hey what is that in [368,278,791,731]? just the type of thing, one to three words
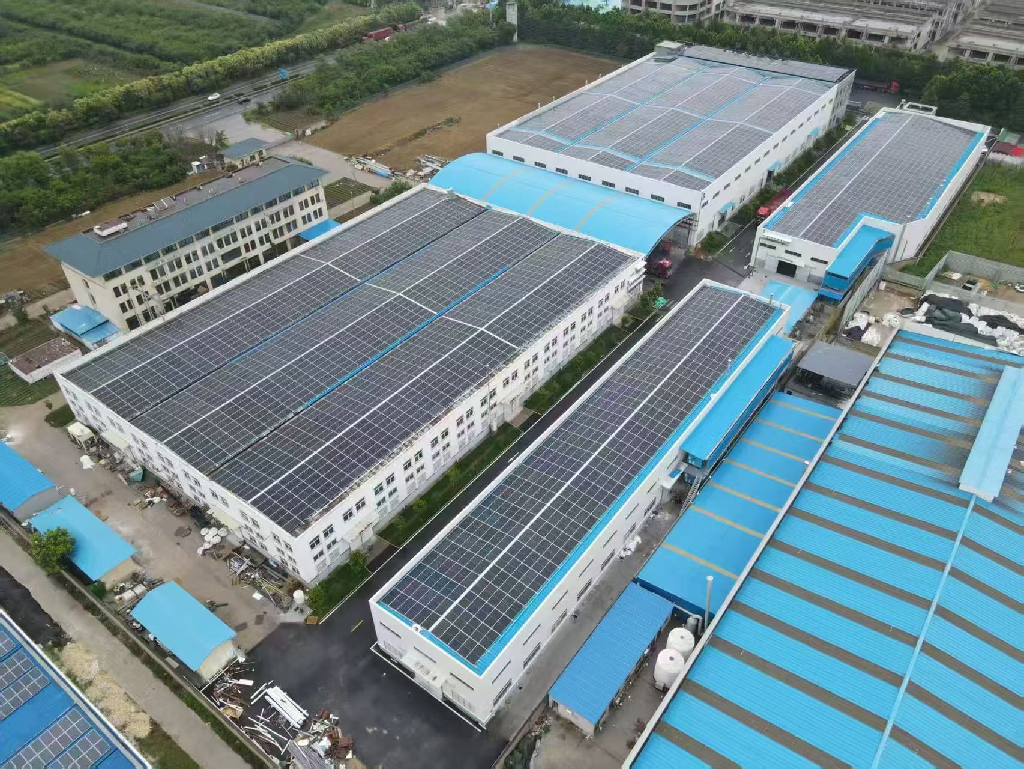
building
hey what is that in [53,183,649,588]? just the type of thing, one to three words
building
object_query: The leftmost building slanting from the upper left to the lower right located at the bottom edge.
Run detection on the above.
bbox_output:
[0,611,152,769]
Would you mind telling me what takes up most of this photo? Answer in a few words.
buildings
